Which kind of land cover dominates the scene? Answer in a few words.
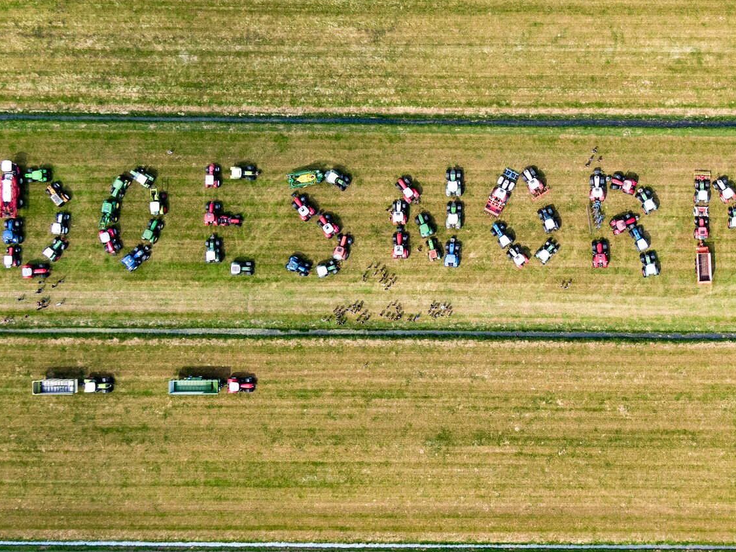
grass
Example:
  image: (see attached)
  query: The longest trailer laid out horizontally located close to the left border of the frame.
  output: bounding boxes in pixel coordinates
[32,377,84,396]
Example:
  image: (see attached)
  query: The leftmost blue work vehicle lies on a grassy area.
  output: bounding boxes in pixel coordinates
[2,218,24,244]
